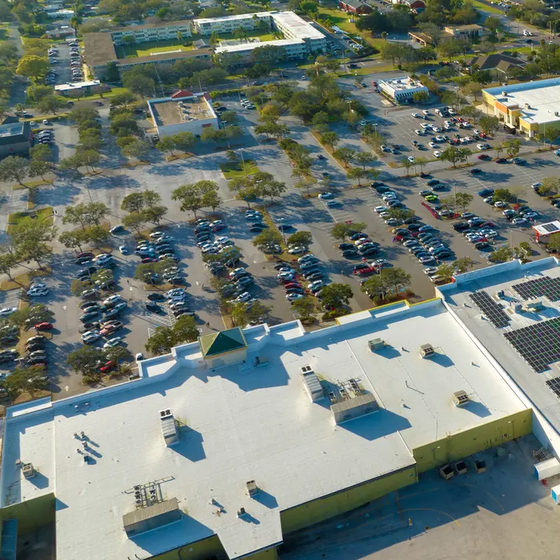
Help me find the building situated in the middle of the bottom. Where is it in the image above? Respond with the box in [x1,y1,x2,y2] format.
[0,289,535,560]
